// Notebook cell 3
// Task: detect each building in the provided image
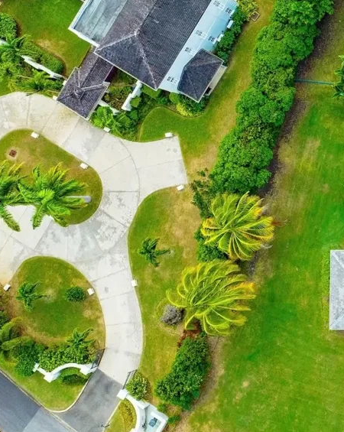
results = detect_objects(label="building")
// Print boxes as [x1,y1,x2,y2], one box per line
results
[42,0,239,103]
[328,249,344,330]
